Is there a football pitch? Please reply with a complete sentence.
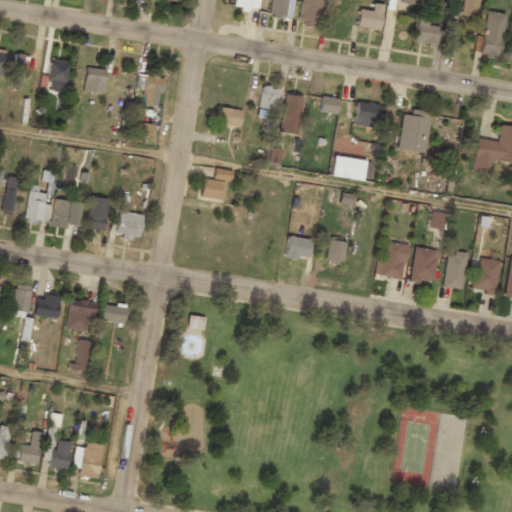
No, I find no football pitch anywhere in the image.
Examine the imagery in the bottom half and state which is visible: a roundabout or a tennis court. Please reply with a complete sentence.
There is a tennis court in the bottom half.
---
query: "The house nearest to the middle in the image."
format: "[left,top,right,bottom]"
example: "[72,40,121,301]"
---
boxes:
[287,236,313,259]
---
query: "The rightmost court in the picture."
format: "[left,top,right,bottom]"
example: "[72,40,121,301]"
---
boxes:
[430,414,466,491]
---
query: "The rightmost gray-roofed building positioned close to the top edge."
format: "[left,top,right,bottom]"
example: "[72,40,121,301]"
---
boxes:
[482,10,508,58]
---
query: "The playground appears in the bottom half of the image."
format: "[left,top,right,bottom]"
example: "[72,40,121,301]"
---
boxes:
[160,404,205,459]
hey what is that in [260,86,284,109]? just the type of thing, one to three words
house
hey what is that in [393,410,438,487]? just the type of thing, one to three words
tennis court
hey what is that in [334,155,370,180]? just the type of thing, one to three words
building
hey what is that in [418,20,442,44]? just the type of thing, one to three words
house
